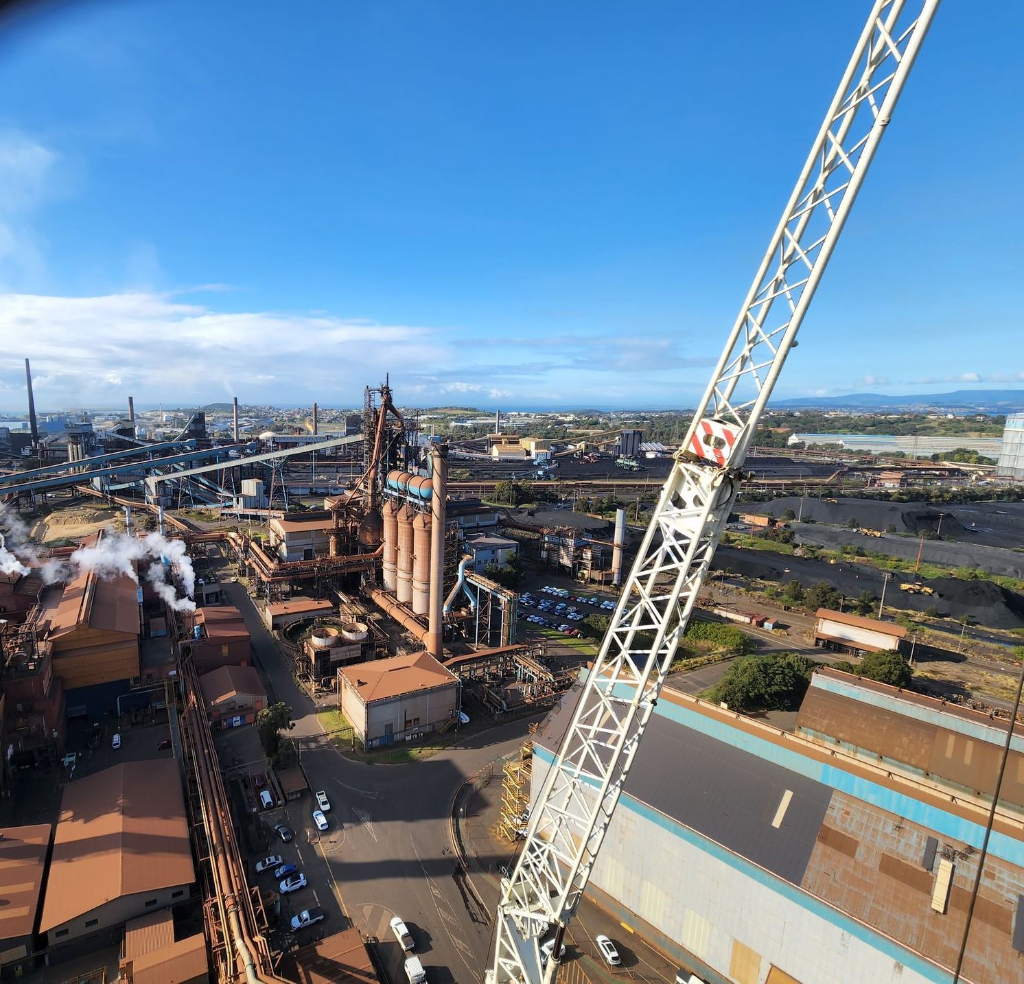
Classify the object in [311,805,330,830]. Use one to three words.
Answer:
car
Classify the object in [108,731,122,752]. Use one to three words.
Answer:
vehicle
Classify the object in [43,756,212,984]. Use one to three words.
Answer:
building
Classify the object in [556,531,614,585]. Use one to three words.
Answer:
house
